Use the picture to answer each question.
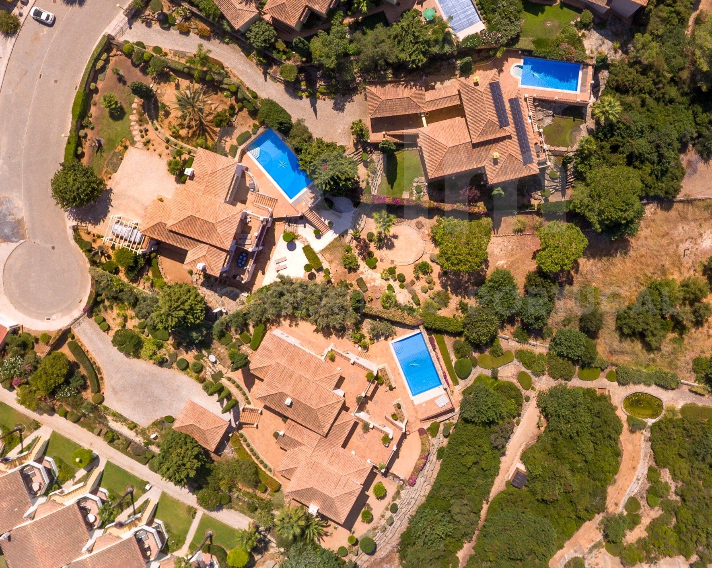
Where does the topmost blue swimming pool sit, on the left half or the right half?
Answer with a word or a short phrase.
right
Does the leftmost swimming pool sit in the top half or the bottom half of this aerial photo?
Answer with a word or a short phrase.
top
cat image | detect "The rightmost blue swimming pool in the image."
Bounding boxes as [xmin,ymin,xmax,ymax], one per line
[518,54,583,93]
